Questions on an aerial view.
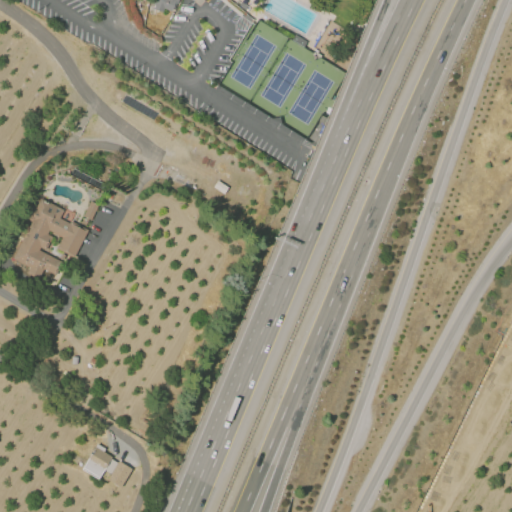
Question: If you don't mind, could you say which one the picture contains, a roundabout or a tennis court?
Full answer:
There is a tennis court in the scene.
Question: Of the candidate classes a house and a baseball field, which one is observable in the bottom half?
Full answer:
The feature located in the bottom half is a house.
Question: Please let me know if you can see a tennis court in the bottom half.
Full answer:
No, looking in the bottom half, there is no tennis court.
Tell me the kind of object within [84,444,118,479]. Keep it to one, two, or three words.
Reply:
house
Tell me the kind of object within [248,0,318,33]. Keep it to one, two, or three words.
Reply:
swimming pool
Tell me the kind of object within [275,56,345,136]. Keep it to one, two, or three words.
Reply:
tennis court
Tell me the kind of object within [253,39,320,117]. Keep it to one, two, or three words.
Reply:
tennis court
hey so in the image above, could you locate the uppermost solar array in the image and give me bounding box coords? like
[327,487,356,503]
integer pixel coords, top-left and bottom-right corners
[123,95,158,119]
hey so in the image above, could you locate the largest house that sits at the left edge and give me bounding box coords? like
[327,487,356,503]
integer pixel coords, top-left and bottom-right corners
[10,198,89,279]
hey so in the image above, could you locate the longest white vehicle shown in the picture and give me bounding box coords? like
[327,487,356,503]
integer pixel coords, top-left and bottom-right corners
[224,394,242,428]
